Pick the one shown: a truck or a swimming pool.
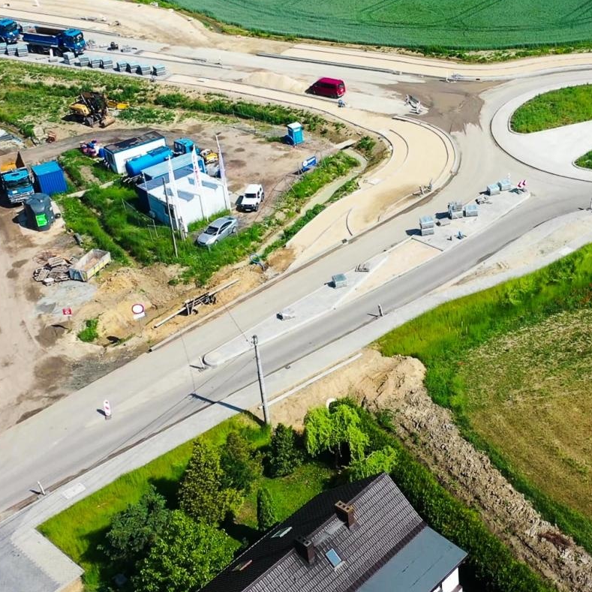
truck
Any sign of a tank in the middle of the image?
No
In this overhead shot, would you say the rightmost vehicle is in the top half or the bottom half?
top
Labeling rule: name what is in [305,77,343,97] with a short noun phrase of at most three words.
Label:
vehicle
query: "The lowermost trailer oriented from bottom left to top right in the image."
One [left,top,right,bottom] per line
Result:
[152,271,241,326]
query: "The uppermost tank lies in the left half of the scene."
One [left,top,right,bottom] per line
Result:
[20,192,52,223]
